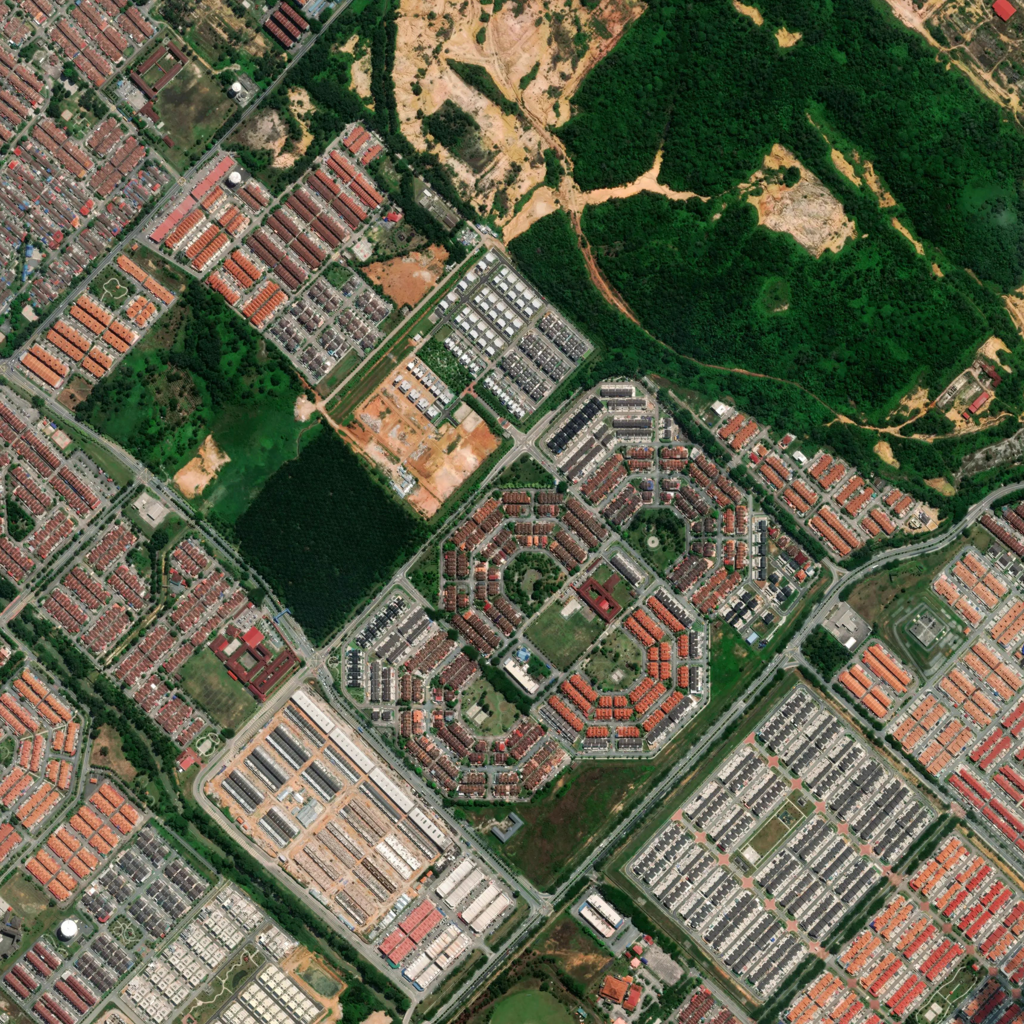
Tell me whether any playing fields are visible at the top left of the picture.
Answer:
Yes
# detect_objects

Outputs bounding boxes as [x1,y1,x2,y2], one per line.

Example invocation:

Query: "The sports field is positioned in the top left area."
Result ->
[159,63,238,166]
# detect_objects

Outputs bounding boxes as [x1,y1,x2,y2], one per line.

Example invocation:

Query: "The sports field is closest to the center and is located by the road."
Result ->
[530,606,603,670]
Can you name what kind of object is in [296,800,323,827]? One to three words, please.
shed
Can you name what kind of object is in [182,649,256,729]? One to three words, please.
sports field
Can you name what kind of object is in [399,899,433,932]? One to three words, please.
building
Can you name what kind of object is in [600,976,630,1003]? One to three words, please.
building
